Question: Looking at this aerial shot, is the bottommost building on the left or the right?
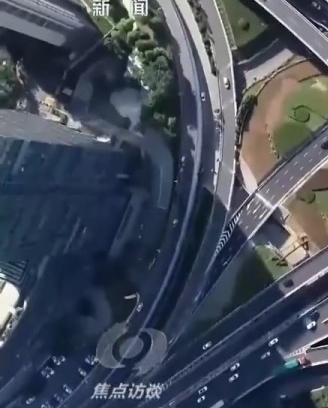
left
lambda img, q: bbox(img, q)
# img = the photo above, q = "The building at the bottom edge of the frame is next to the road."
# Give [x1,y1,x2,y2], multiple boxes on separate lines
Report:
[16,304,142,389]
